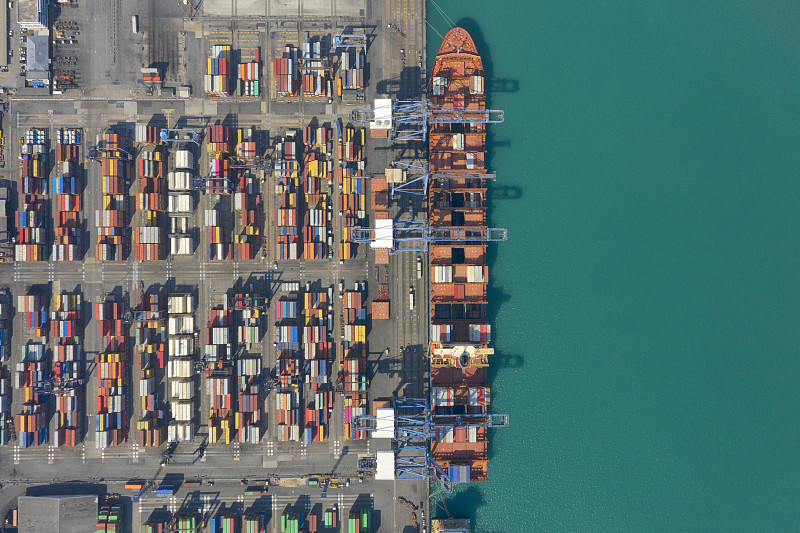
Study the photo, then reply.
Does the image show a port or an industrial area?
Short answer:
port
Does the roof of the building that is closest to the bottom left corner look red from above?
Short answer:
No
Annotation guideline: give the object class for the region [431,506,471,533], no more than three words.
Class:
ship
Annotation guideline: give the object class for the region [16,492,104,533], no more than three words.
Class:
building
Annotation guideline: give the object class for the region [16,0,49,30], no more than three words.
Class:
building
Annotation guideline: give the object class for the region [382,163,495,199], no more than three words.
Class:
container crane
